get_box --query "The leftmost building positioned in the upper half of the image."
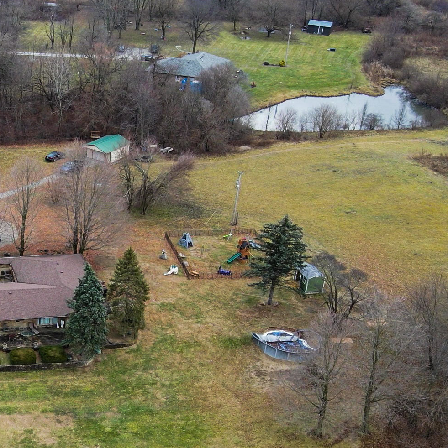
[84,129,133,163]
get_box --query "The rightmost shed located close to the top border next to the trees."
[308,19,334,35]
